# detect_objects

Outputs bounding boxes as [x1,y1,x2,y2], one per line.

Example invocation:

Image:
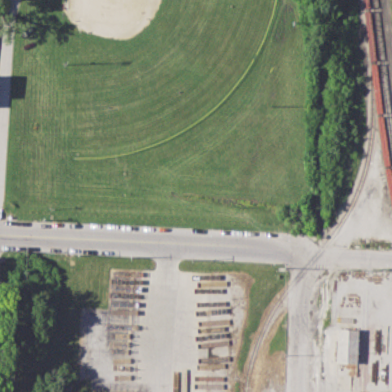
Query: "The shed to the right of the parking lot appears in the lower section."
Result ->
[336,329,360,364]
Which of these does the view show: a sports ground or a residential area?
sports ground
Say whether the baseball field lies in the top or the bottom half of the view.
top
